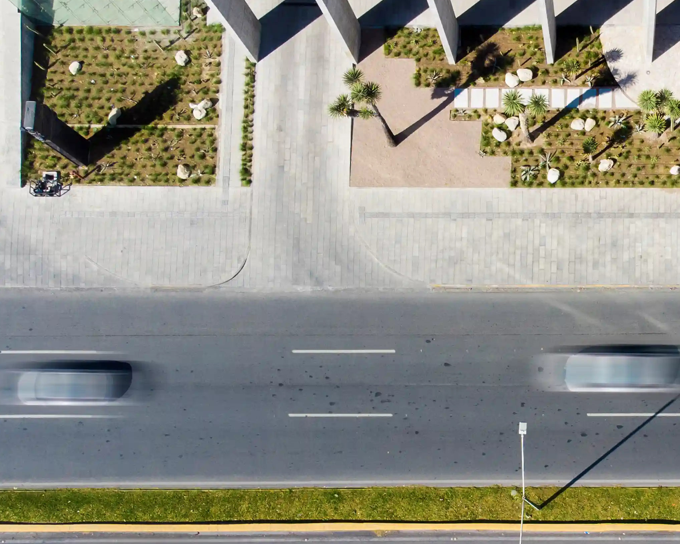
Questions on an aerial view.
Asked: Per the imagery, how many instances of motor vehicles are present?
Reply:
two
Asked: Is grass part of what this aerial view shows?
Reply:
Yes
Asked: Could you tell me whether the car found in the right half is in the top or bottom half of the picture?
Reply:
bottom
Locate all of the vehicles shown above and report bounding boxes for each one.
[564,351,660,396]
[18,366,116,411]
